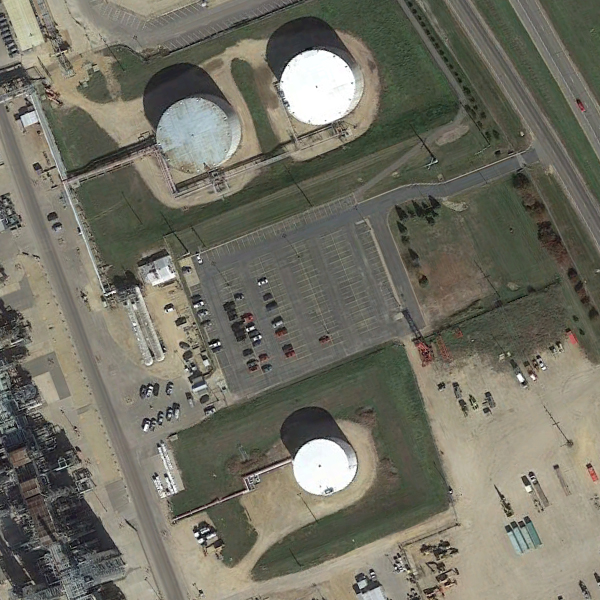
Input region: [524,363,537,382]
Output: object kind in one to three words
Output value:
vehicle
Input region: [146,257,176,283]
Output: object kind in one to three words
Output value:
building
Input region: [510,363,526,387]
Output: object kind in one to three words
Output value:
vehicle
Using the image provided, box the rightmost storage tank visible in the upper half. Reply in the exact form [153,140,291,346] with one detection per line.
[280,45,366,127]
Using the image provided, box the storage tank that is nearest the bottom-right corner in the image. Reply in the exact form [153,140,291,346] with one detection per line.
[292,433,360,498]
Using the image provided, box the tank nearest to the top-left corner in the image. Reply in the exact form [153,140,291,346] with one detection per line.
[156,92,243,174]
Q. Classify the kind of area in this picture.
industrial area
